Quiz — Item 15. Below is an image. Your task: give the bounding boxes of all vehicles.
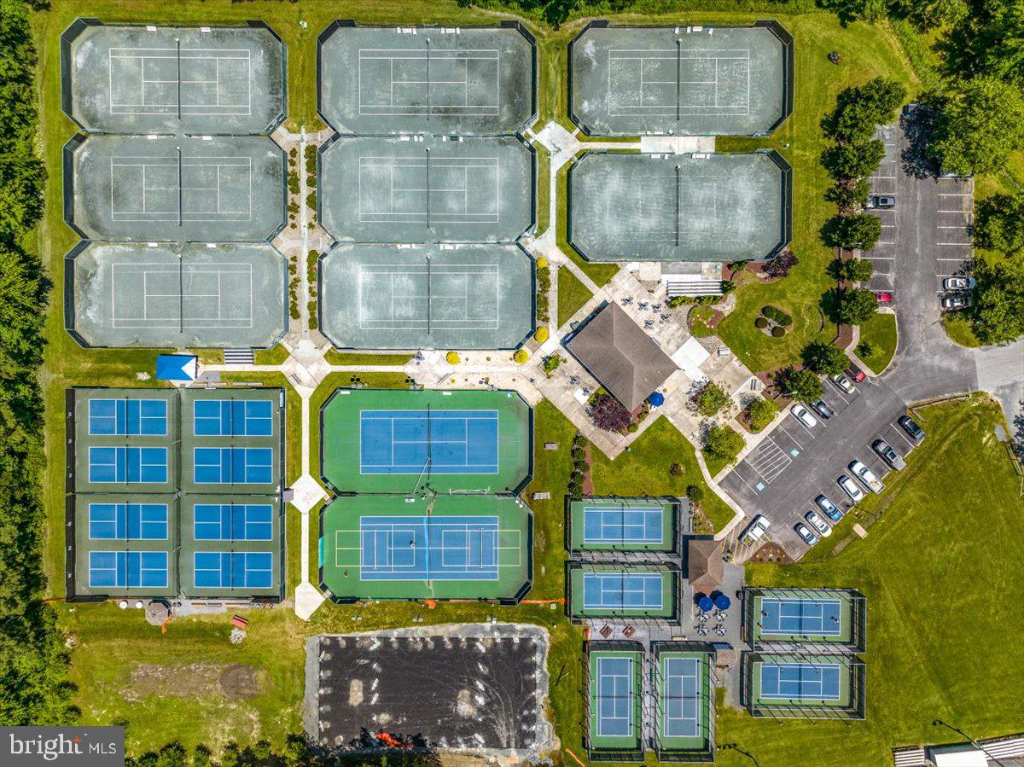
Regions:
[944,276,974,289]
[874,440,906,471]
[852,463,884,493]
[874,293,892,304]
[865,195,894,209]
[941,296,971,309]
[816,496,841,520]
[805,511,831,536]
[838,476,863,500]
[832,372,857,396]
[841,360,865,384]
[896,415,922,440]
[811,399,834,421]
[793,522,817,546]
[791,403,816,428]
[740,516,768,546]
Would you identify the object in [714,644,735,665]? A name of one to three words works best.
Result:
shed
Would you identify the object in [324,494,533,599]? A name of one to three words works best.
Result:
tennis court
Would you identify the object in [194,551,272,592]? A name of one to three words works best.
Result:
sports court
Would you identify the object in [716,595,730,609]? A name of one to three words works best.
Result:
umbrella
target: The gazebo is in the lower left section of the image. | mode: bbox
[146,599,175,625]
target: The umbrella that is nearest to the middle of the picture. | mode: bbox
[648,391,663,406]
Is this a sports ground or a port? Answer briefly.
sports ground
